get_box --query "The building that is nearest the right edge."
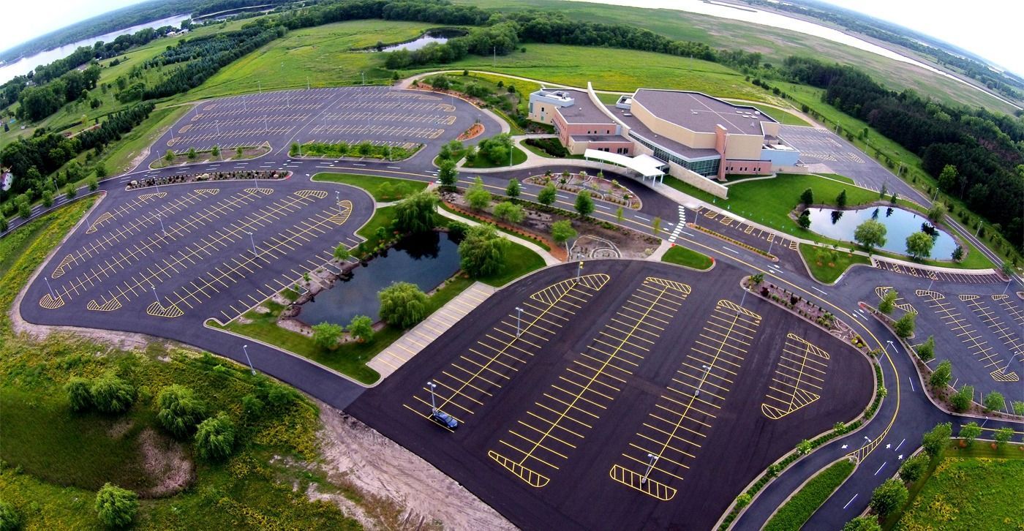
[526,78,809,199]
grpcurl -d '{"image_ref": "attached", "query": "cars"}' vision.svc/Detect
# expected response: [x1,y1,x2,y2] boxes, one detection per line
[431,409,456,426]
